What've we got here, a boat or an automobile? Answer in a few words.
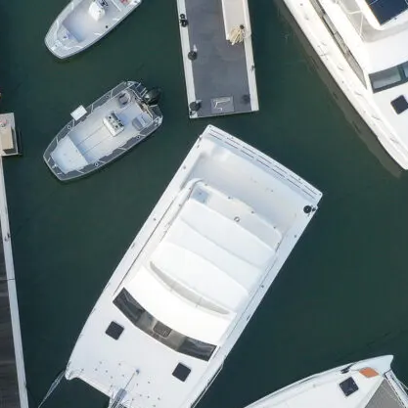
boat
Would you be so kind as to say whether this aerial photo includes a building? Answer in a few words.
No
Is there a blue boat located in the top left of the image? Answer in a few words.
No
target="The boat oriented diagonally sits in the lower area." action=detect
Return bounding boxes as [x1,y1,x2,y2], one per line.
[39,125,322,408]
